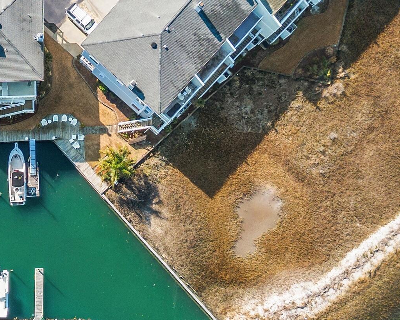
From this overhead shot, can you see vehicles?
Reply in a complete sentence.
Yes, looking at the shot, I can spot a vehicle.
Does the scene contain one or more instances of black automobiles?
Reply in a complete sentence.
No, this view has no black automobile in it.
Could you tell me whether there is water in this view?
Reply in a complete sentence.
Yes, water can be seen from above here.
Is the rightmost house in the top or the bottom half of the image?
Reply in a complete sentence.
Seen from above, the rightmost house lies in the top half of the view.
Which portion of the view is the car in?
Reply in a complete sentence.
Look in the top left portion of the view to spot the car.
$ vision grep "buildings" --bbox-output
[0,0,46,120]
[75,0,314,140]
